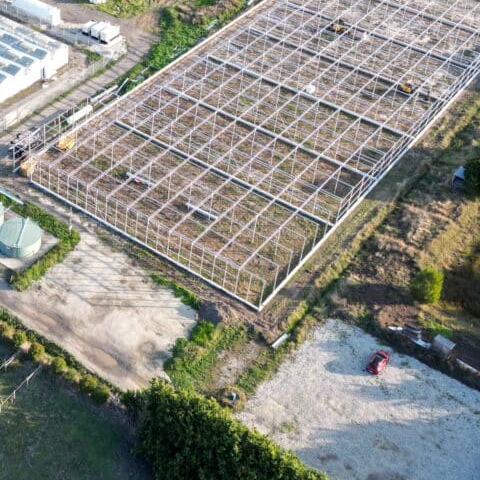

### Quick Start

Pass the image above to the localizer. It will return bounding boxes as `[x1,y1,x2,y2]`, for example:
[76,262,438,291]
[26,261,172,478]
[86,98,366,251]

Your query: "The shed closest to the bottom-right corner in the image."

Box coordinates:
[432,334,459,362]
